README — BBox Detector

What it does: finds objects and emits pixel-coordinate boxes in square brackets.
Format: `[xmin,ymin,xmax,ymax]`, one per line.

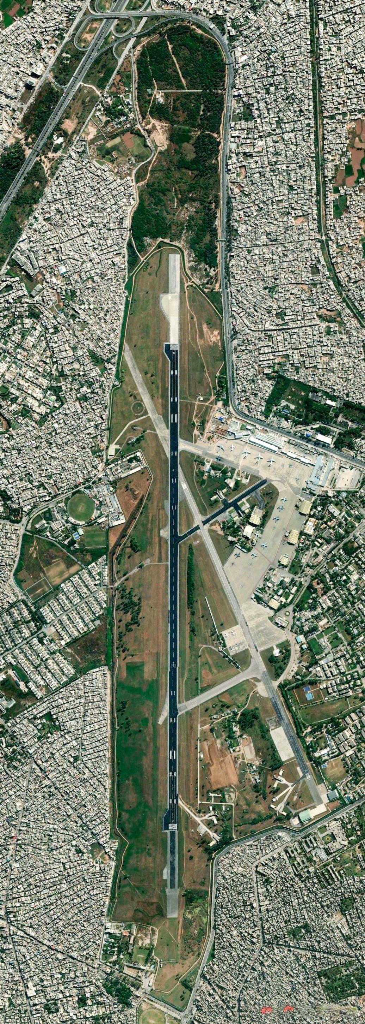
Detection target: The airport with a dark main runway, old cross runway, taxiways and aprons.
[108,254,330,917]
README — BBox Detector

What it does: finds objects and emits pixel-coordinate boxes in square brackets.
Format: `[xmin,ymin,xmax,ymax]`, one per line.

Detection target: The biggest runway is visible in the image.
[163,344,178,830]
